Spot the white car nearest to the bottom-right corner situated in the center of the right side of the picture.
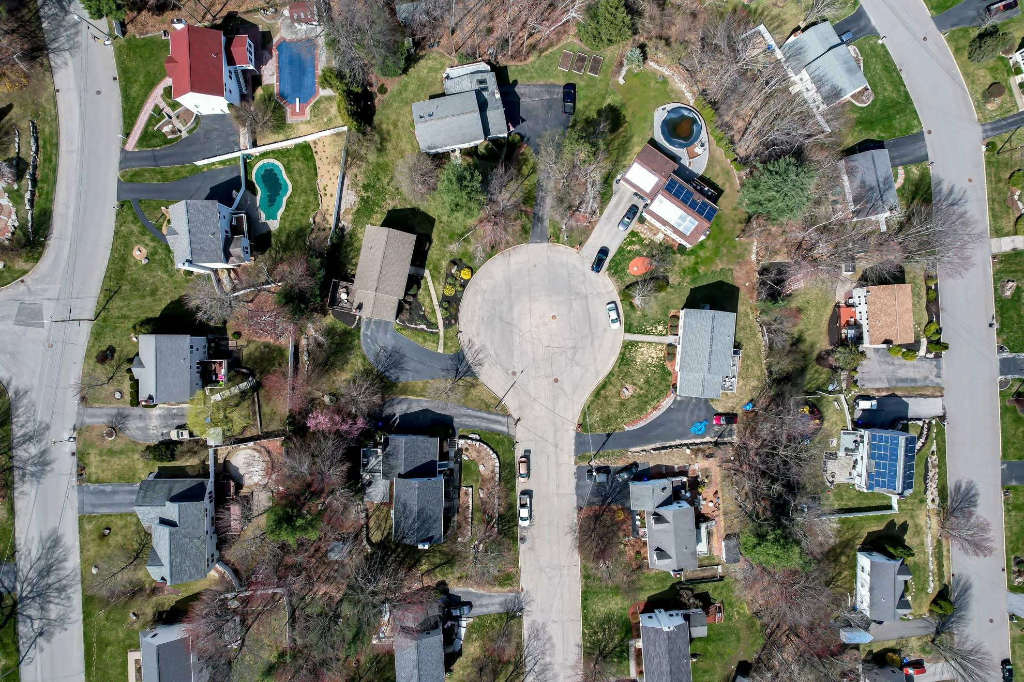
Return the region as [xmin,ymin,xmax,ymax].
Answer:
[851,397,879,410]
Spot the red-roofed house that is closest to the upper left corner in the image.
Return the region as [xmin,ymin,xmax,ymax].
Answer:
[162,17,262,111]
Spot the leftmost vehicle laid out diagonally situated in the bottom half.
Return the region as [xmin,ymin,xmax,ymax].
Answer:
[614,461,640,483]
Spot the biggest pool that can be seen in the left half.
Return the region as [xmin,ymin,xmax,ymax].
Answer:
[273,35,321,119]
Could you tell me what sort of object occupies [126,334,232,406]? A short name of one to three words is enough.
house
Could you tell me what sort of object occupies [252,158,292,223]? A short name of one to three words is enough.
swimming pool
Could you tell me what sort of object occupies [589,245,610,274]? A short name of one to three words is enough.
car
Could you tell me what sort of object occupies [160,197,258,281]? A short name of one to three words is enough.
house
